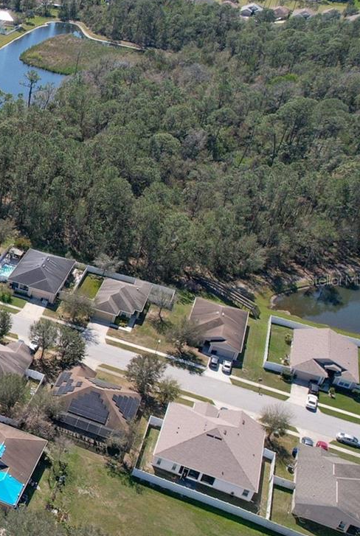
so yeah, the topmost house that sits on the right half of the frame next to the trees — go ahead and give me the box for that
[185,297,248,360]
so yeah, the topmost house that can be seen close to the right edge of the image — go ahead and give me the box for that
[291,329,360,398]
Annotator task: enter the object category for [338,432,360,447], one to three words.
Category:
car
